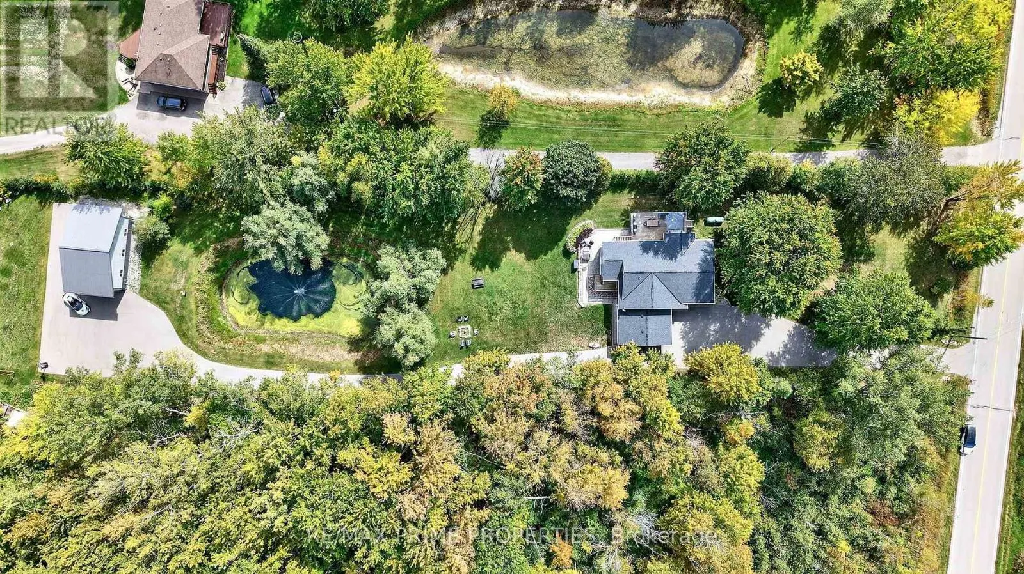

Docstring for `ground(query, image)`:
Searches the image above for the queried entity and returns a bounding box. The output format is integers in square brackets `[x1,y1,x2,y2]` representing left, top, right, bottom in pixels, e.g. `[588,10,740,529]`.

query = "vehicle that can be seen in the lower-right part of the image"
[957,424,976,456]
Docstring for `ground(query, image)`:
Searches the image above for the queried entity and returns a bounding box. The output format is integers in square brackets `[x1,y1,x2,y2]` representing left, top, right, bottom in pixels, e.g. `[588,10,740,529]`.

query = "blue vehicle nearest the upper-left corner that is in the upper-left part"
[157,95,188,110]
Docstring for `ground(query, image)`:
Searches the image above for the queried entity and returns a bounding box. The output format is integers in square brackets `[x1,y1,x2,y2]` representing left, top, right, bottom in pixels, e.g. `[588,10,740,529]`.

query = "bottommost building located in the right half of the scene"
[601,230,721,346]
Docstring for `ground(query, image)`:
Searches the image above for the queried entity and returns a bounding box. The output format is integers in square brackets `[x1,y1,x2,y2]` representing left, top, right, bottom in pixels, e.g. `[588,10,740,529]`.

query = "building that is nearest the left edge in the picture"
[57,204,135,298]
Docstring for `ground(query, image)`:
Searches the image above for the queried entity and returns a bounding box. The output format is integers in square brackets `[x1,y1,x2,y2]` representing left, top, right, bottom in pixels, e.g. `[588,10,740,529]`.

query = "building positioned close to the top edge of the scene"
[135,0,215,95]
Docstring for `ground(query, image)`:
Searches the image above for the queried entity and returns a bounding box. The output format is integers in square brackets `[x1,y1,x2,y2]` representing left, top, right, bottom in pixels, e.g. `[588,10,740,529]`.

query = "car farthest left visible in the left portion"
[62,293,91,317]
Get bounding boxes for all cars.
[62,293,91,317]
[260,82,277,111]
[157,95,188,110]
[957,424,976,456]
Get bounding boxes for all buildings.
[601,230,721,346]
[135,0,215,95]
[57,204,135,298]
